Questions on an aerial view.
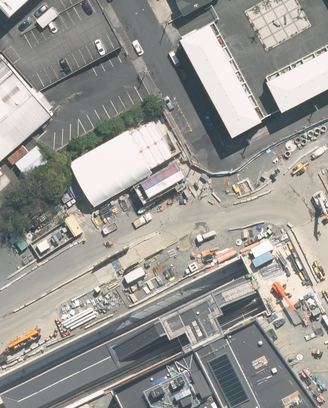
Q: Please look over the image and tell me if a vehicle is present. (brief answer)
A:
Yes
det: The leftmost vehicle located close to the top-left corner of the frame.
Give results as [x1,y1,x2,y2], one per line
[17,17,33,32]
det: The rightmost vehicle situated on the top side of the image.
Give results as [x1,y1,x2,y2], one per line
[308,144,328,162]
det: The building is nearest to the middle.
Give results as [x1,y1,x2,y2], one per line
[140,160,184,200]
